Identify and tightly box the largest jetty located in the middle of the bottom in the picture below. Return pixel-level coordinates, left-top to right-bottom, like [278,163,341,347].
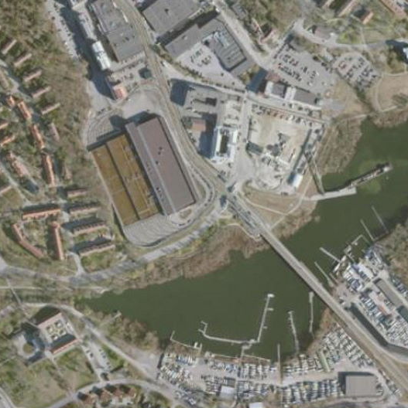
[197,294,273,364]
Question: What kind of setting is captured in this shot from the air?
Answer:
port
